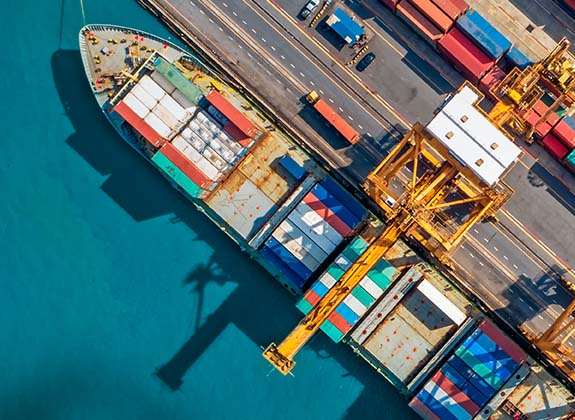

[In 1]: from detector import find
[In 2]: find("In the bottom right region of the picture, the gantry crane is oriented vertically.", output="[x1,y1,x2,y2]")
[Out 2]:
[524,282,575,392]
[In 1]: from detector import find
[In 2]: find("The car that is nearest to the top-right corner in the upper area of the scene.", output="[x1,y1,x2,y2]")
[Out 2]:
[355,52,376,73]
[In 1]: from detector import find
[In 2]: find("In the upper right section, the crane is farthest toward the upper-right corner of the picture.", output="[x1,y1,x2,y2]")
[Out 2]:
[501,36,575,151]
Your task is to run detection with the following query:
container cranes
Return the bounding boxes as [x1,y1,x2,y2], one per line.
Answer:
[262,62,545,377]
[501,36,575,151]
[524,282,575,392]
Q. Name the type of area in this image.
port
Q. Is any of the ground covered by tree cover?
No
